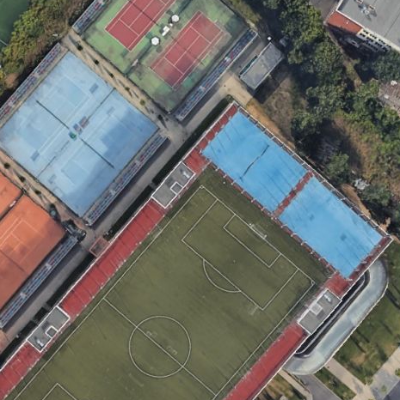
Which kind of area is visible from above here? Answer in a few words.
sports ground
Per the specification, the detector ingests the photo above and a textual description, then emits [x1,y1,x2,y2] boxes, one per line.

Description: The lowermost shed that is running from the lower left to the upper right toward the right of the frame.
[239,42,284,92]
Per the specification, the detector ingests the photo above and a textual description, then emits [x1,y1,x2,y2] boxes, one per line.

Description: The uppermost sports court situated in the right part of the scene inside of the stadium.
[201,111,307,212]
